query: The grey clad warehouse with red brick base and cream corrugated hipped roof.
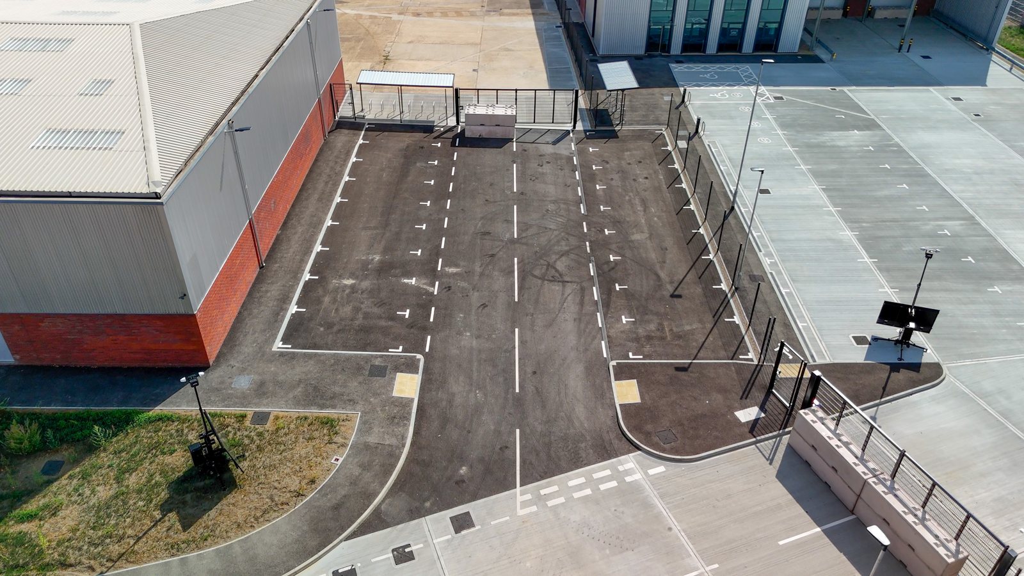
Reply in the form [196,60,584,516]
[0,0,348,365]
